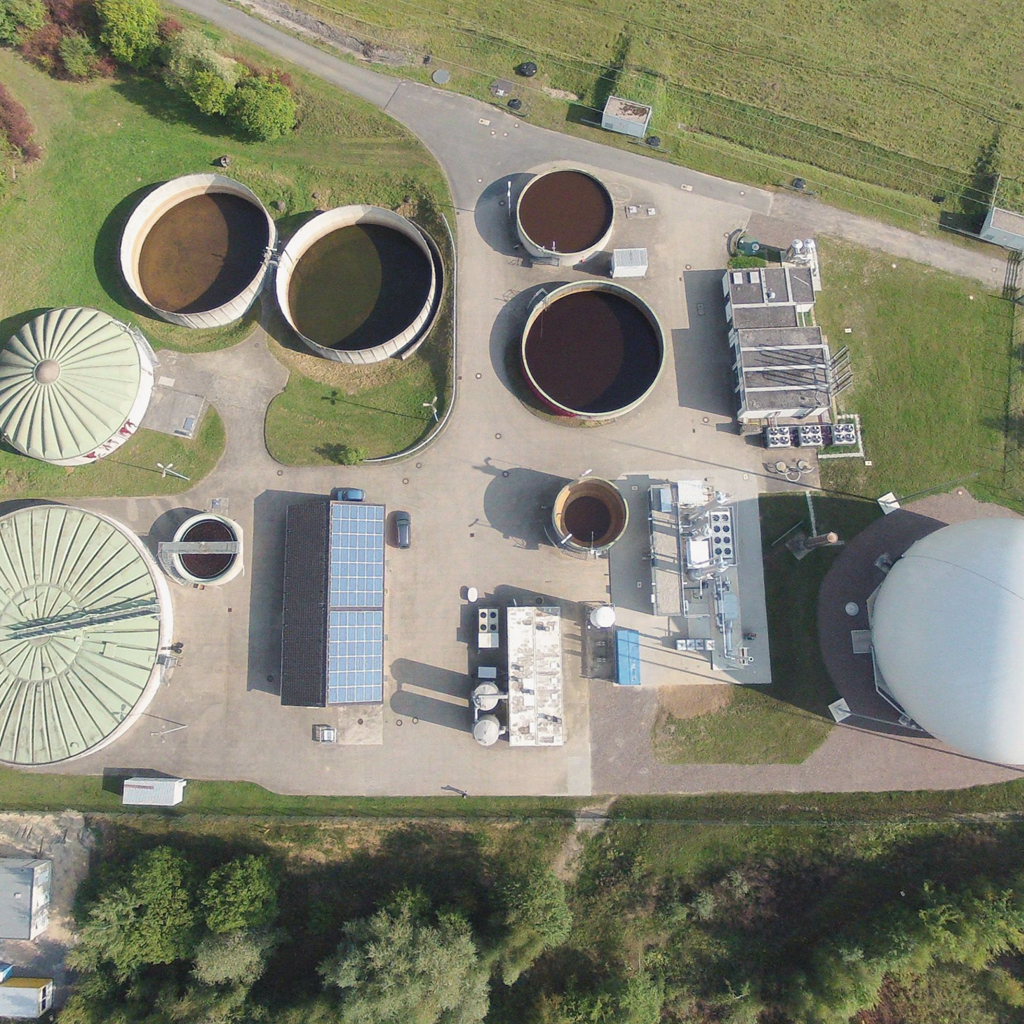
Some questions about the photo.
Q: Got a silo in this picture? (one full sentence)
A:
Yes, the frame does contain a silo.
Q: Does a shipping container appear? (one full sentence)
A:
Yes, the picture does show a shipping container.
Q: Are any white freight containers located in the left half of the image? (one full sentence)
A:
Yes, the scene does show a white freight container in the left half of the image.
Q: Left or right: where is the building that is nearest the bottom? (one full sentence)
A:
It is on the left.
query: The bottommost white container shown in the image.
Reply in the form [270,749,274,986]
[122,776,191,806]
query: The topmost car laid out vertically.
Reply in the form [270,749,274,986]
[393,512,411,550]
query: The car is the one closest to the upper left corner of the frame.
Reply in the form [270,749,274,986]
[337,488,367,503]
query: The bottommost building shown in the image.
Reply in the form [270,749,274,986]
[0,975,56,1018]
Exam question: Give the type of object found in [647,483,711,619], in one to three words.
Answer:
building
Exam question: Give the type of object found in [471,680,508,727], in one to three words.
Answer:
silo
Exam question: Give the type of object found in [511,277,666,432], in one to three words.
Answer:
storage tank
